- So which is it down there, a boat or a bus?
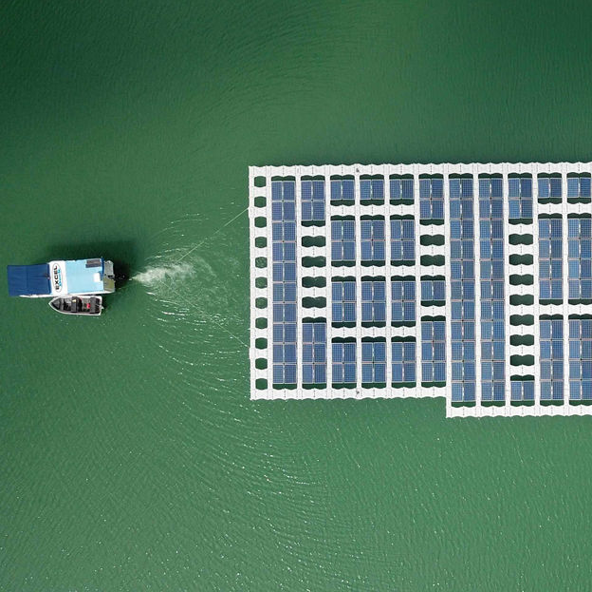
boat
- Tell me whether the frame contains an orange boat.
No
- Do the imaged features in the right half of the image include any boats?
No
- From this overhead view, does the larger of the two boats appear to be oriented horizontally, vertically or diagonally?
horizontally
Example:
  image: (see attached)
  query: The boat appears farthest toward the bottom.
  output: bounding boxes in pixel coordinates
[47,295,107,316]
